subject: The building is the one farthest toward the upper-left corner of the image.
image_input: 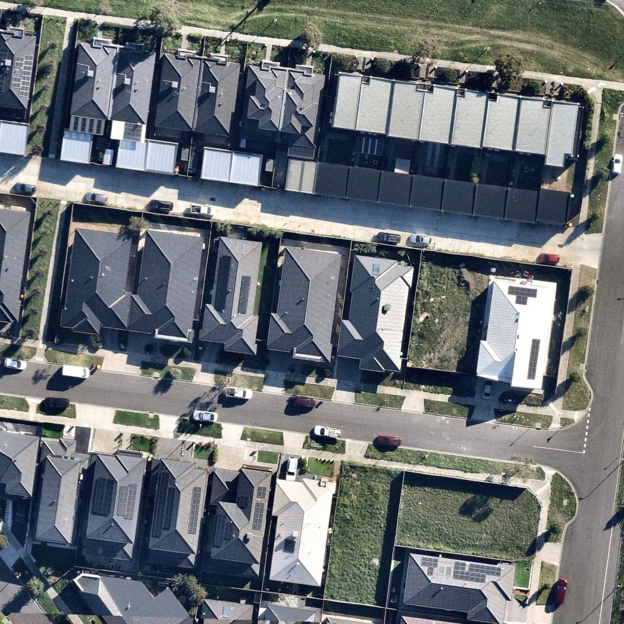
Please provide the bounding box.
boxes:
[0,28,37,112]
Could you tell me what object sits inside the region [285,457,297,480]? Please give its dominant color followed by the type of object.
white vehicle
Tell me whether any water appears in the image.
No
